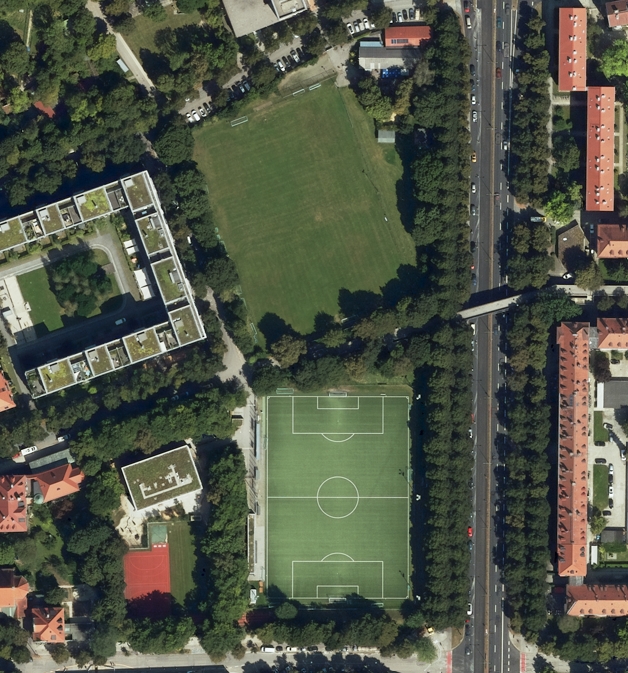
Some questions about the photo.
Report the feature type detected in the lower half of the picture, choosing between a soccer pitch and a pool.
soccer pitch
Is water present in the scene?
No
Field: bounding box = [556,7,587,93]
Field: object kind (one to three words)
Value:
building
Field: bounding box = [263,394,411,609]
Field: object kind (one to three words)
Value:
soccer field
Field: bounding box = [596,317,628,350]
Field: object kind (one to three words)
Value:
house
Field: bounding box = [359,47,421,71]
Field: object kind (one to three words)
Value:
shed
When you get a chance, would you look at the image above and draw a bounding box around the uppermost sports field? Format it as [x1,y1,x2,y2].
[186,79,420,350]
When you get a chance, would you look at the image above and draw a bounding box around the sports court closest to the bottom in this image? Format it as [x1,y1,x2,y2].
[124,544,170,625]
